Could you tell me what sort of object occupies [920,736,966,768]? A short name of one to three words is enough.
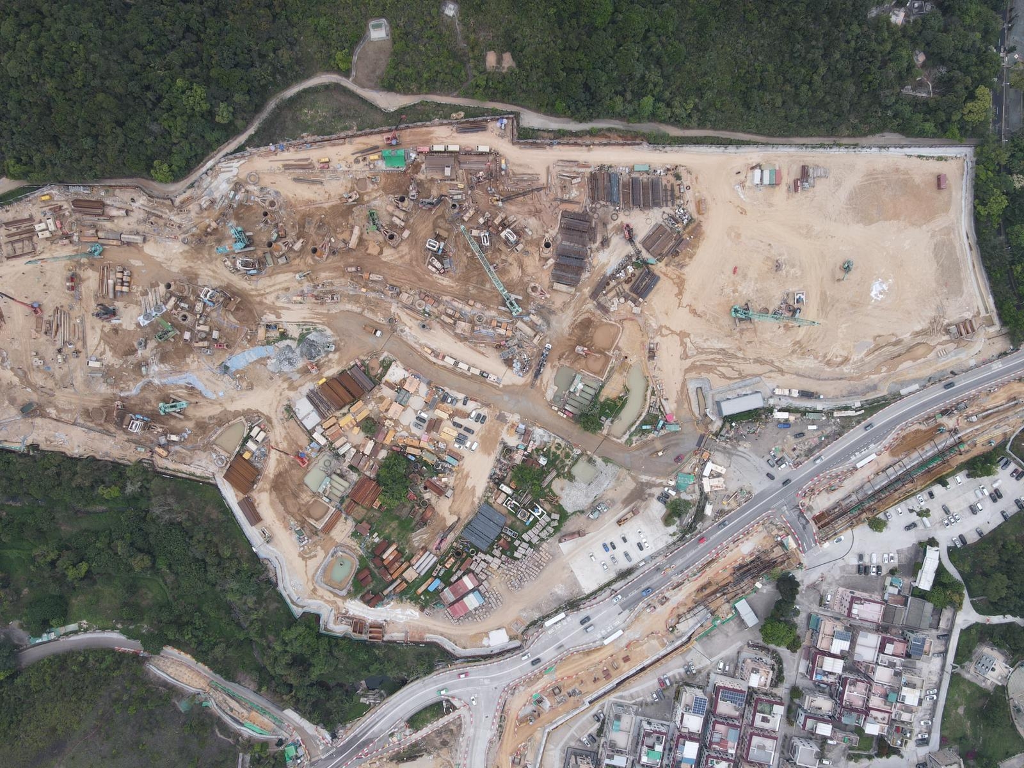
house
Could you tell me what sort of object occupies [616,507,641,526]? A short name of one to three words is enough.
vehicle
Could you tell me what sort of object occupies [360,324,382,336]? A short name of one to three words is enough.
vehicle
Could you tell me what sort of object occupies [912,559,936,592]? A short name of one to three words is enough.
shed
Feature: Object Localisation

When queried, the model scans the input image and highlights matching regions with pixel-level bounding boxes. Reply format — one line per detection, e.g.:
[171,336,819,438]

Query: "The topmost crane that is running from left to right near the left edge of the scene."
[24,240,105,267]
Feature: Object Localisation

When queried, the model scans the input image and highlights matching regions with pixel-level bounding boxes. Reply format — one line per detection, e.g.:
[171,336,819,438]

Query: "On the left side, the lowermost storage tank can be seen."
[319,471,350,502]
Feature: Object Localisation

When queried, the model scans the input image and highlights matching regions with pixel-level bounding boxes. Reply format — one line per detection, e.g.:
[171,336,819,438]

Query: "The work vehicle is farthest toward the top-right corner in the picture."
[838,255,858,281]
